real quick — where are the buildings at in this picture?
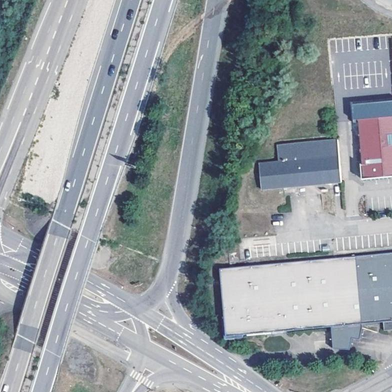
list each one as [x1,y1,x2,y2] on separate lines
[220,252,392,338]
[258,140,342,190]
[358,117,392,180]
